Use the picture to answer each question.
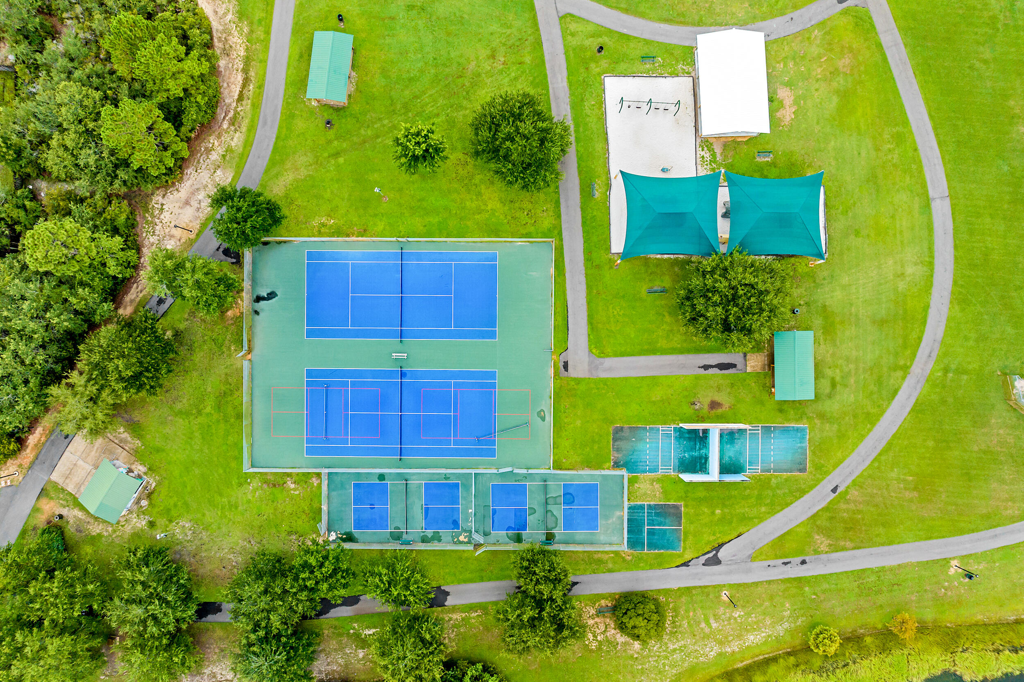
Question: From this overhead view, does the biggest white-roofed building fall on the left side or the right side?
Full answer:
The biggest white-roofed building sits on the right side.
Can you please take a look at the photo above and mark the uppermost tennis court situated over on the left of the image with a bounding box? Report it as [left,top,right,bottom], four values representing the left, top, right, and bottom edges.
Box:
[251,241,552,355]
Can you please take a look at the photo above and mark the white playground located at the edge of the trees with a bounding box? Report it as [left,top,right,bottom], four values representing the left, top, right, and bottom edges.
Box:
[604,75,828,255]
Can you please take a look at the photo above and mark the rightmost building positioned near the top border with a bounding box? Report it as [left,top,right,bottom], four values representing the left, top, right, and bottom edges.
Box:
[695,28,770,137]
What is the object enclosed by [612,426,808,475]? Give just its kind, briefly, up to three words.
sports court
